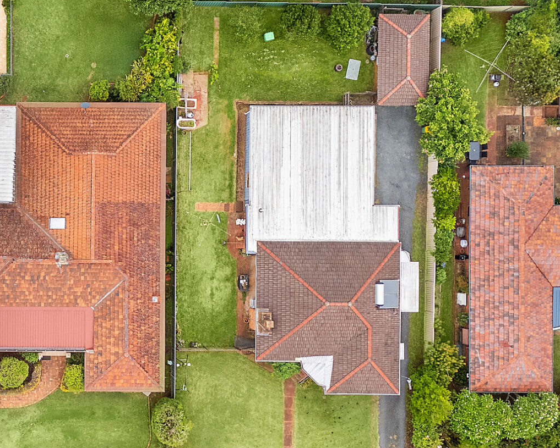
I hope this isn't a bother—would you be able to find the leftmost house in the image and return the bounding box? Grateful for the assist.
[0,101,168,402]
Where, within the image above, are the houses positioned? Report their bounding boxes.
[0,101,168,402]
[245,105,428,396]
[465,164,560,394]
